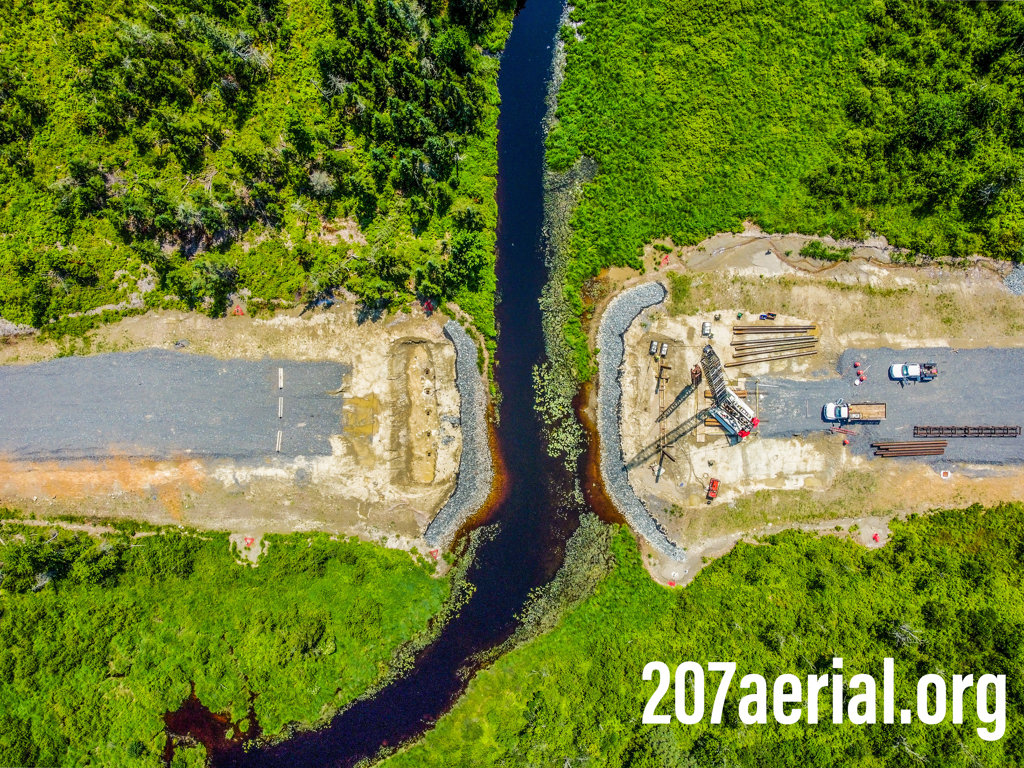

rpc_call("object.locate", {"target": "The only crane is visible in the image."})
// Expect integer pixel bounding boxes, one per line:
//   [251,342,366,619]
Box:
[697,343,764,441]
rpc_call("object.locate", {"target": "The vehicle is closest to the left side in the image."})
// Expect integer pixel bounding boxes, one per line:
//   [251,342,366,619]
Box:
[822,396,890,422]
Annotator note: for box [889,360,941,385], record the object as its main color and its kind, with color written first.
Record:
white truck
